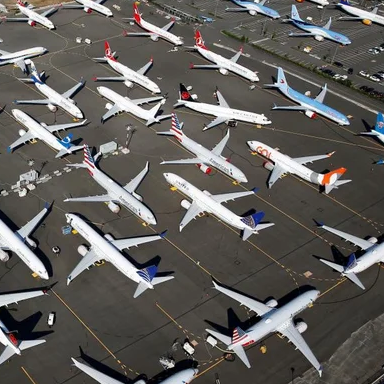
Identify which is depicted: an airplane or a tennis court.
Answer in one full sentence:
Visible in the photo is an airplane.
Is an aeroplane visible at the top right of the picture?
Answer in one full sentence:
Yes, there is an aeroplane at the top right of the picture.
